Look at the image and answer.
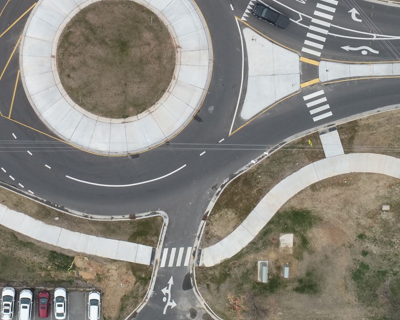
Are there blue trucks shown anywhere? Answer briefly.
No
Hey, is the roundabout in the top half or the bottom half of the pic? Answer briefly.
top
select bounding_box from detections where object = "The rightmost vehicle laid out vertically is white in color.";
[87,290,100,320]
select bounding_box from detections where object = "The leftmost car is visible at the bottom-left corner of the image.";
[0,287,16,320]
